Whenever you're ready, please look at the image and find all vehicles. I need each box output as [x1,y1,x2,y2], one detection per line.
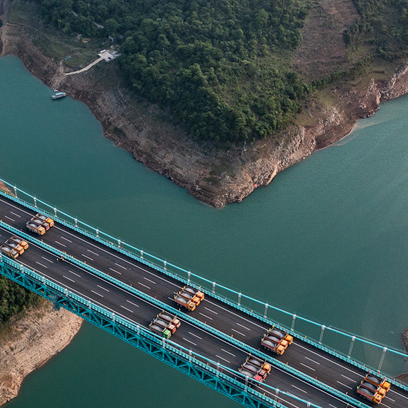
[181,282,204,301]
[269,325,294,346]
[265,330,289,349]
[29,218,50,232]
[26,222,45,236]
[364,371,390,392]
[34,214,55,228]
[360,376,388,398]
[154,316,178,334]
[4,240,25,255]
[1,241,21,259]
[246,353,271,374]
[175,293,196,312]
[262,336,286,356]
[242,358,267,380]
[11,233,30,250]
[177,287,200,306]
[149,318,172,339]
[158,308,182,328]
[355,382,382,404]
